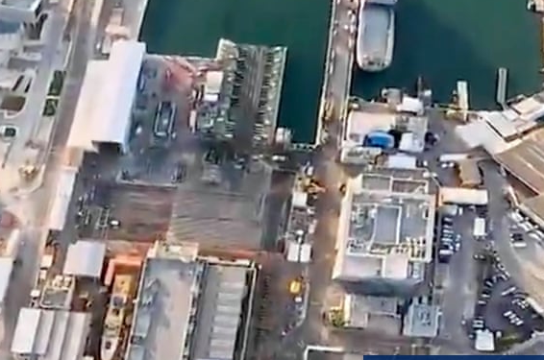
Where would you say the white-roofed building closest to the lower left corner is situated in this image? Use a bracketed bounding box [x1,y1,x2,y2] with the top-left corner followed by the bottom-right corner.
[11,307,42,360]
